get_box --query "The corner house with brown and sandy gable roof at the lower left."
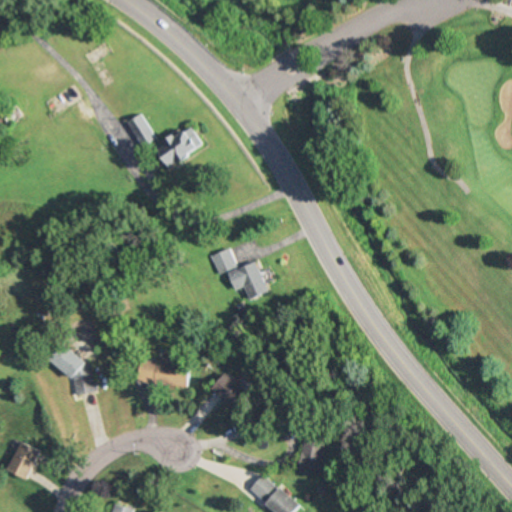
[7,444,41,480]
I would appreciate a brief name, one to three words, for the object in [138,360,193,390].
house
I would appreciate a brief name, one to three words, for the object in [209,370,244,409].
house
